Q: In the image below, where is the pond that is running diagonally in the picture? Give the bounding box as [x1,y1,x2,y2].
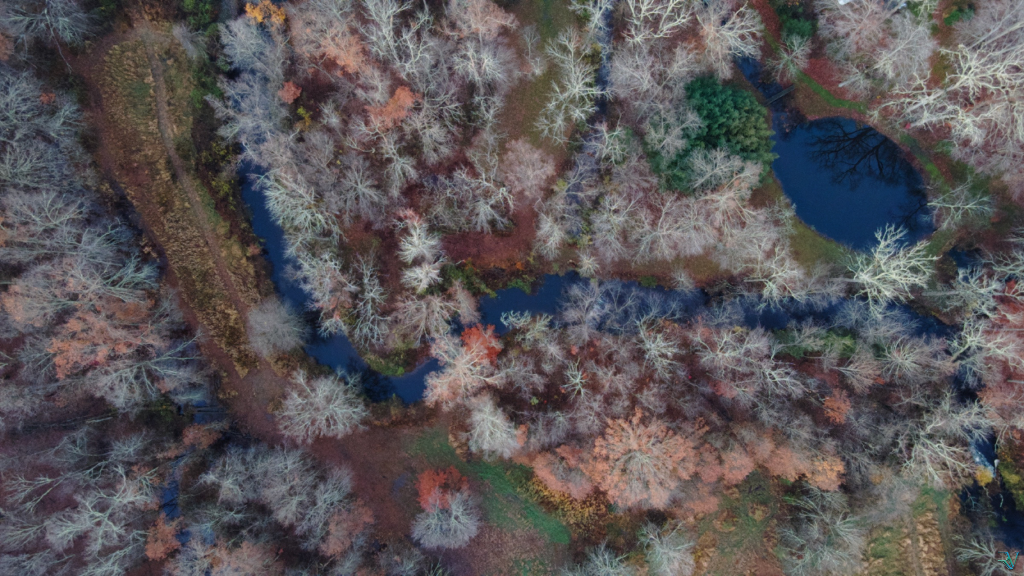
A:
[735,55,935,251]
